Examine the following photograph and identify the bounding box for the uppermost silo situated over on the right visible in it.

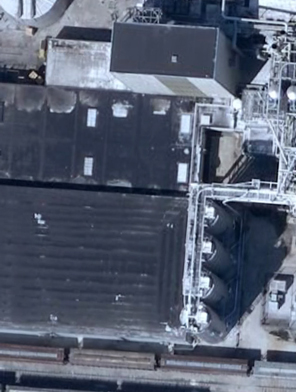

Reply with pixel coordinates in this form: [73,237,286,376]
[198,203,237,240]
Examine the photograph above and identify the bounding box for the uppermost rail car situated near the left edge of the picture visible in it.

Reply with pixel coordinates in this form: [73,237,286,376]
[0,343,67,364]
